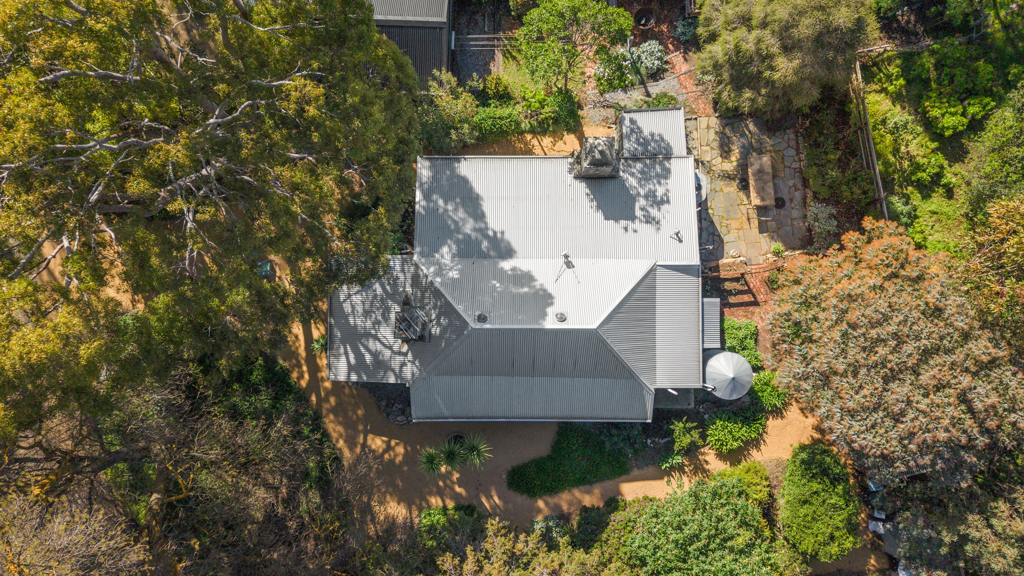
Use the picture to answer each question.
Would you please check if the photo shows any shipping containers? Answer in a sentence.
No, I can't see a single shipping container in this photo.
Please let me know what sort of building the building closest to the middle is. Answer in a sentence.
I'd identify the building closest to the middle as a home.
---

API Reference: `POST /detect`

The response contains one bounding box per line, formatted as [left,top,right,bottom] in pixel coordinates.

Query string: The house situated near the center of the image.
[328,104,720,425]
